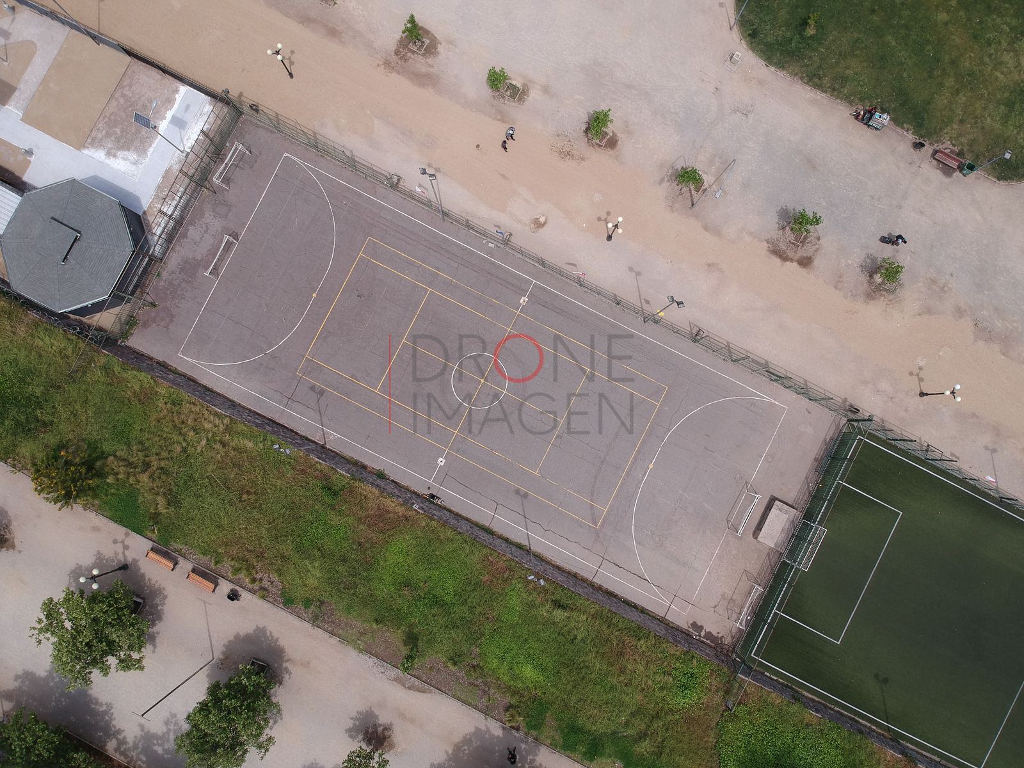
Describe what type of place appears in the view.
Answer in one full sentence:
What you see here is a sports ground.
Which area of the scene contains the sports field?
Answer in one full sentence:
The sports field is in the bottom right part of the image.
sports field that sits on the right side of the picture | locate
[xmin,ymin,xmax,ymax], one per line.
[740,420,1024,764]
